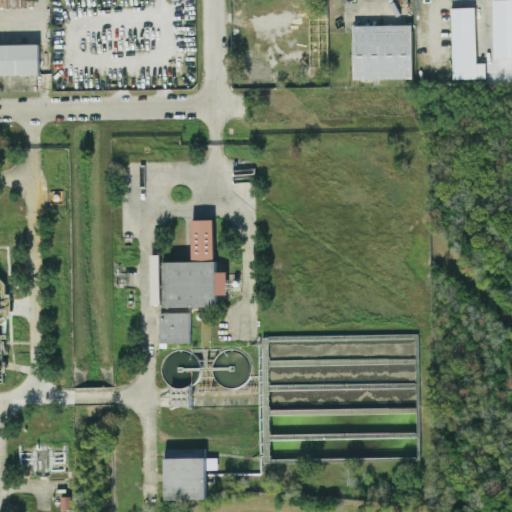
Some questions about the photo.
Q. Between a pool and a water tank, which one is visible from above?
water tank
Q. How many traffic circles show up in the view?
0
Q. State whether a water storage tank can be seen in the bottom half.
Yes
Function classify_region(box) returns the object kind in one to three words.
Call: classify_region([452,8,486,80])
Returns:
building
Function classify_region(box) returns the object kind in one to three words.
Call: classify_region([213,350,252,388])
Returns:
water tank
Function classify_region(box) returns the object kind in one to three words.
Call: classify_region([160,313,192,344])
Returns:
building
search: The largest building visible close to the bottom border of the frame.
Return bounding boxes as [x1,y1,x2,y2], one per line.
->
[163,458,207,500]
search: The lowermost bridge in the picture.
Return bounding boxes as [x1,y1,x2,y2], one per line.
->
[71,388,116,405]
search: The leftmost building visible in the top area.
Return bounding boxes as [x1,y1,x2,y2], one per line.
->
[0,45,40,76]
